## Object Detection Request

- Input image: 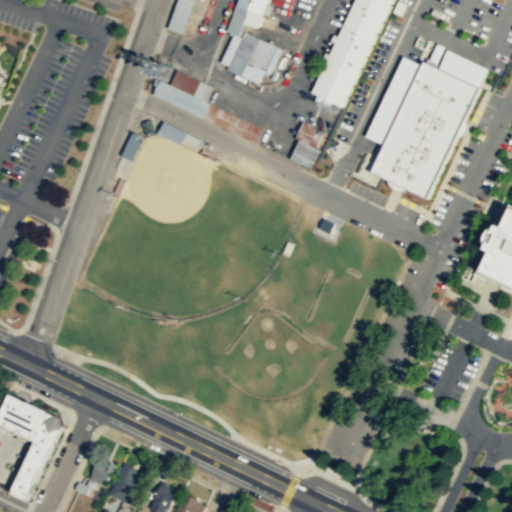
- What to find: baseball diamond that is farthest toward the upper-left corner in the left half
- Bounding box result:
[78,134,304,328]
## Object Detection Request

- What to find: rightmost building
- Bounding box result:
[477,204,512,290]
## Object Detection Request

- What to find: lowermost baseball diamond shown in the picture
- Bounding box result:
[216,312,333,400]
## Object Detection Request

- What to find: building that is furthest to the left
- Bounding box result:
[0,392,62,504]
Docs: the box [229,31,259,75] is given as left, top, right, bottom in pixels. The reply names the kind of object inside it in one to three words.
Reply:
shed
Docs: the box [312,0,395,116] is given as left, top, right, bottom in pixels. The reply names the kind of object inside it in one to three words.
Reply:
building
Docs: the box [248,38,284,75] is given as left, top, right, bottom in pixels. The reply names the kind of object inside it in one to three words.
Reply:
barn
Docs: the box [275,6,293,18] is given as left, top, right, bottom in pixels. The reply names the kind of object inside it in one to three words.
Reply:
vehicle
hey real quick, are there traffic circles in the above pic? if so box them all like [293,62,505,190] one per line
[481,364,512,436]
